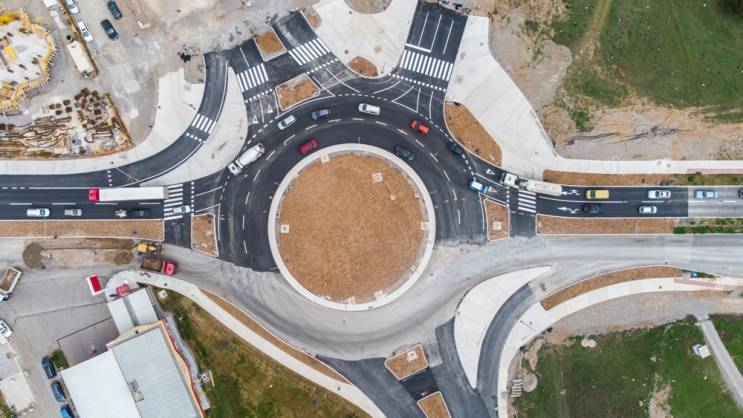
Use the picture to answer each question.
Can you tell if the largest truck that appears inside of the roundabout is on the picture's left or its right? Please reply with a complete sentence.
You can find the largest truck that appears inside of the roundabout on the left side of the picture.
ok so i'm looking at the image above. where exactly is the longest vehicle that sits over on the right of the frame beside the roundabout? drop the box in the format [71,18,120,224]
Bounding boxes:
[496,171,562,195]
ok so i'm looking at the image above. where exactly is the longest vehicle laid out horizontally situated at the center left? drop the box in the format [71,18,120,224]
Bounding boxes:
[90,187,170,203]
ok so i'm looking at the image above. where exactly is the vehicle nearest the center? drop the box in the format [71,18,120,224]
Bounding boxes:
[393,144,415,162]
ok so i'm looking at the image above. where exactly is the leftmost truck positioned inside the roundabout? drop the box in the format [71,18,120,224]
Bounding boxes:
[225,144,268,179]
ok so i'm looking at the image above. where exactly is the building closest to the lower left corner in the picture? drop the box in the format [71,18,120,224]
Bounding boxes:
[0,374,39,411]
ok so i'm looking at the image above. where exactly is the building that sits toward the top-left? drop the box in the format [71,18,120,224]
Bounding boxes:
[0,5,62,114]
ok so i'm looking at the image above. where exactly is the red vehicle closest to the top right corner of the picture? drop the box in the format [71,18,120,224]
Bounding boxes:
[409,119,431,135]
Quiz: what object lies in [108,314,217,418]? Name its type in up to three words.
building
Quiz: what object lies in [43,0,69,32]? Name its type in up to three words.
truck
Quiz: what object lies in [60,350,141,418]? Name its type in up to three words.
building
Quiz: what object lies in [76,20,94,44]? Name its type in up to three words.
car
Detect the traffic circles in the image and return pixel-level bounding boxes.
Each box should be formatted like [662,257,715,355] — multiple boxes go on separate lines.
[212,86,490,311]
